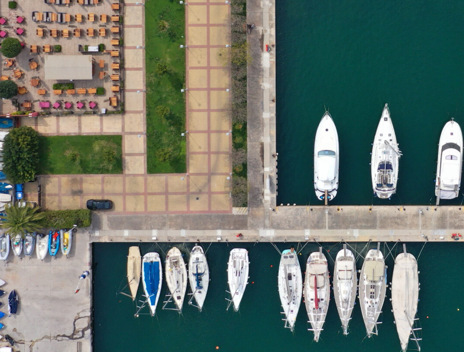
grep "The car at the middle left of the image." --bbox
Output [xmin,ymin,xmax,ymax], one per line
[87,199,112,212]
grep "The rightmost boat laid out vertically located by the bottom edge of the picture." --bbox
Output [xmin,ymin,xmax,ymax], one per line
[386,243,427,352]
